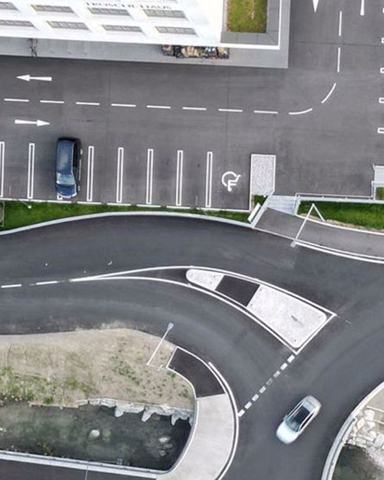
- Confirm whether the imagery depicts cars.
Yes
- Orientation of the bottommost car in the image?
diagonally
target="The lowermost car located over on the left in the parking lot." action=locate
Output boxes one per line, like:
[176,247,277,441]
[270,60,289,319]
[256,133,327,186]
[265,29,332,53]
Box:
[49,139,80,198]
